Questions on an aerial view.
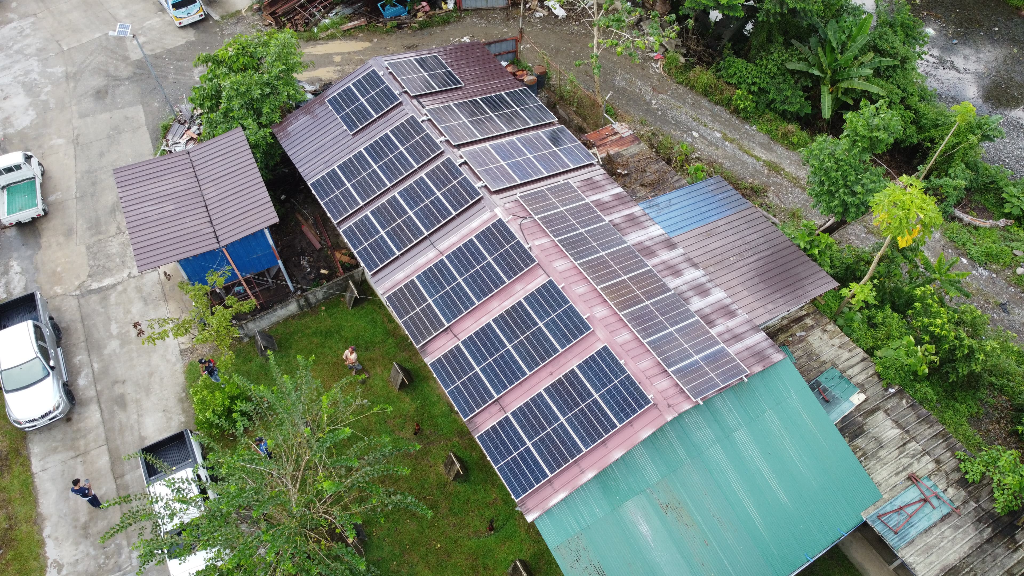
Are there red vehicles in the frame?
No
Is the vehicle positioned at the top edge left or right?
left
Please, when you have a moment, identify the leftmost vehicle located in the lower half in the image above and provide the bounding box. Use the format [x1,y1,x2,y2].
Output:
[0,291,80,431]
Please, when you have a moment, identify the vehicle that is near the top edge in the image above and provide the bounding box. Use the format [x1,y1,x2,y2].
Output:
[166,0,205,28]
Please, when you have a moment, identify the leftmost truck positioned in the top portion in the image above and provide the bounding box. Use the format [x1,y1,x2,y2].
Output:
[0,148,52,228]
